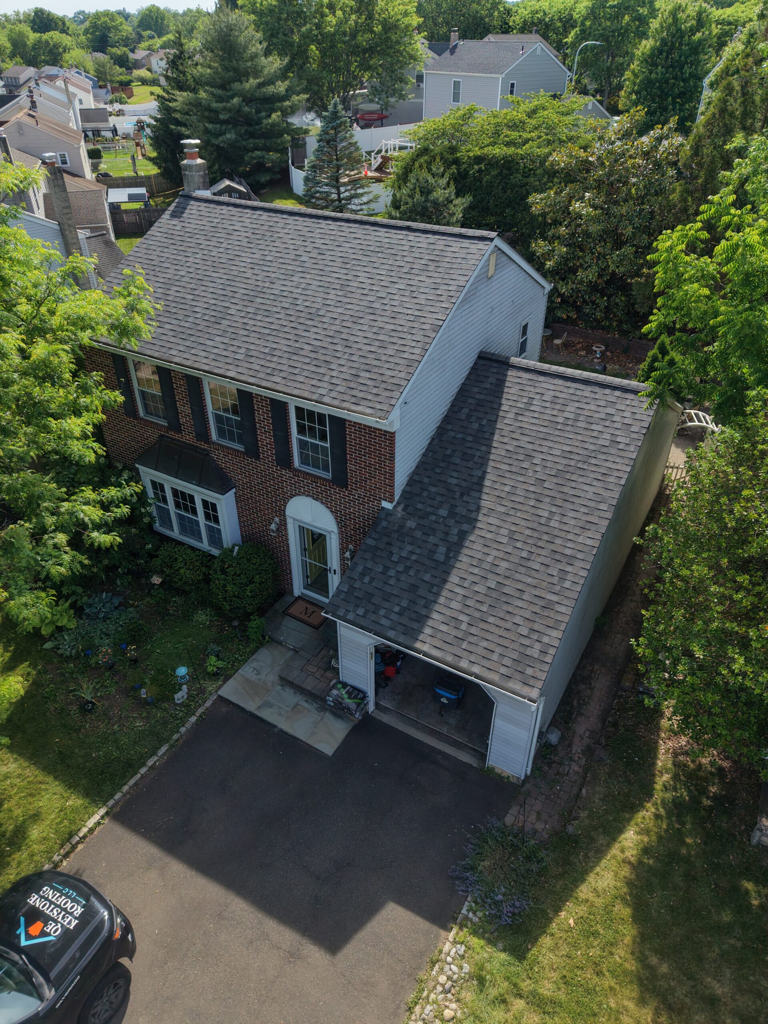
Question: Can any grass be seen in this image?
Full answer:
Yes, there is grass in the image.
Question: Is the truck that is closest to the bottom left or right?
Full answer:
The truck that is closest to the bottom is on the left side of the image.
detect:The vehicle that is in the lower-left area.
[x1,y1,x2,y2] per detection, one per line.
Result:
[0,867,143,1024]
